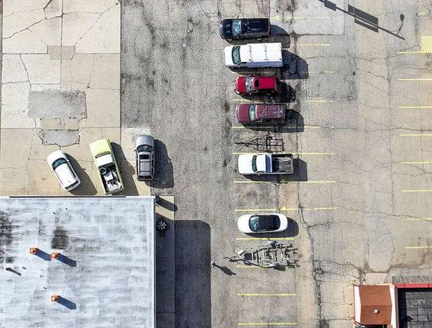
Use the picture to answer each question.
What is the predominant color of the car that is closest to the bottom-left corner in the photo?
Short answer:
white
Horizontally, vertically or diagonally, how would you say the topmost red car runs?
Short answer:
horizontally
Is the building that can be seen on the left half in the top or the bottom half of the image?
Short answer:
bottom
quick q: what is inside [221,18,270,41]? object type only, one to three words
car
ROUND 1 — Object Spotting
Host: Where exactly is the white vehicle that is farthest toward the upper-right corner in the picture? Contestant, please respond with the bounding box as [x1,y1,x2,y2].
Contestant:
[225,44,284,68]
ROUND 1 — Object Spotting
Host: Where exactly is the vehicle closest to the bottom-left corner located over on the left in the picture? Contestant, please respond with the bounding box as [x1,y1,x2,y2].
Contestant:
[50,151,80,192]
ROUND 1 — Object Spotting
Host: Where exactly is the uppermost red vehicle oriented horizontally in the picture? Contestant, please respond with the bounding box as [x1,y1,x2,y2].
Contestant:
[235,76,280,97]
